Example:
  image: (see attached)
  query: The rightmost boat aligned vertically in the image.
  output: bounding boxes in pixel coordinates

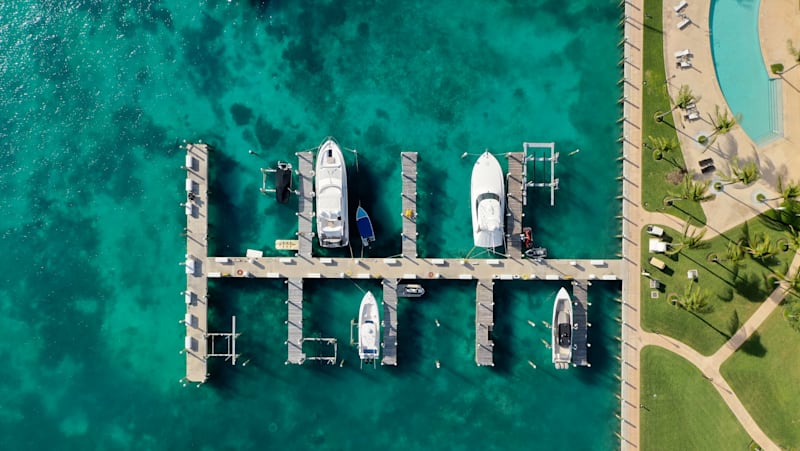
[552,286,573,367]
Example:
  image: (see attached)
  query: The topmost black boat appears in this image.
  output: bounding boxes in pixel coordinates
[276,160,291,203]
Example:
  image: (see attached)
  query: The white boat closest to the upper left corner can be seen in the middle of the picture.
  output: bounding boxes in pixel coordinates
[316,136,351,249]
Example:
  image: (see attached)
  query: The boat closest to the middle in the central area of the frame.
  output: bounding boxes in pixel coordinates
[359,208,377,248]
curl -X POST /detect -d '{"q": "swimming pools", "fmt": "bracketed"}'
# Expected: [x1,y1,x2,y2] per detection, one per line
[706,0,786,148]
